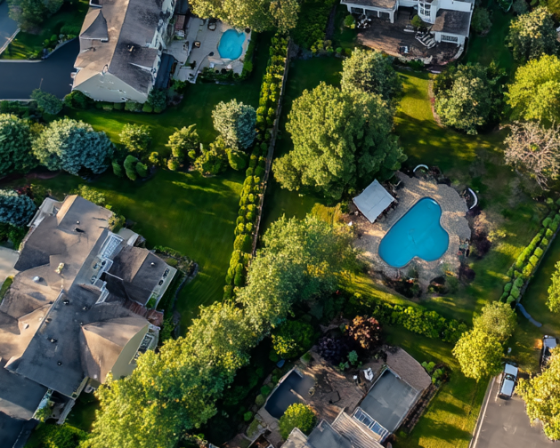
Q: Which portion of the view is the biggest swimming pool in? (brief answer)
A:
right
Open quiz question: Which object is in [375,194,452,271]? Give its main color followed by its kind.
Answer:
blue swimming pool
